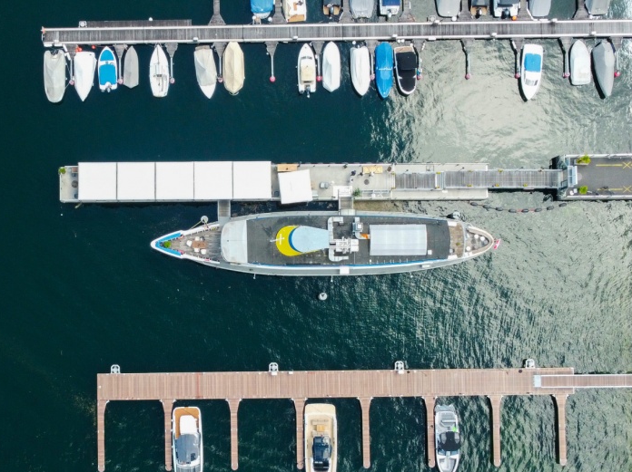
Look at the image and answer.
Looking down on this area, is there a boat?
Yes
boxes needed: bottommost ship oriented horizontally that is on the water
[151,212,497,282]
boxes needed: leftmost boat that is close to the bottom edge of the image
[170,401,204,472]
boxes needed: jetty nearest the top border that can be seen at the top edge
[43,0,632,81]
